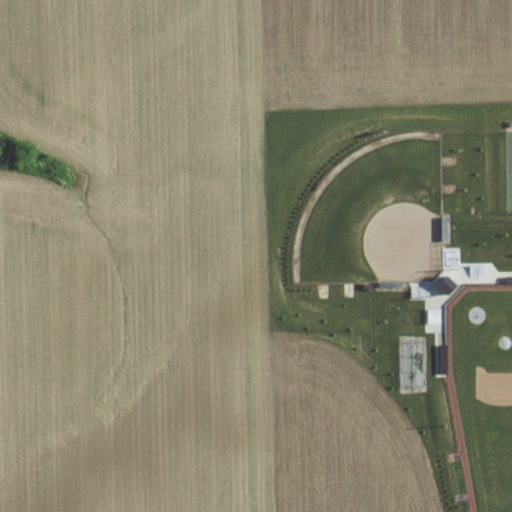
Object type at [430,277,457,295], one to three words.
building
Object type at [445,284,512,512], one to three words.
baseball field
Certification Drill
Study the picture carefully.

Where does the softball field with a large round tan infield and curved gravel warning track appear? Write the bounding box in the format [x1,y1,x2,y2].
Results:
[293,132,442,284]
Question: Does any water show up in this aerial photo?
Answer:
No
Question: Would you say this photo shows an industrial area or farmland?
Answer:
farmland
